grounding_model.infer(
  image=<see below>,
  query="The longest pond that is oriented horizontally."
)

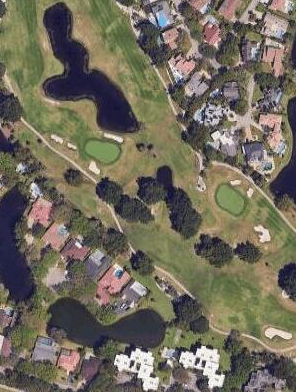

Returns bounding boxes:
[48,299,163,348]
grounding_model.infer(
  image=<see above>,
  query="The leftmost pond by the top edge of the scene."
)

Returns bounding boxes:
[44,2,137,132]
